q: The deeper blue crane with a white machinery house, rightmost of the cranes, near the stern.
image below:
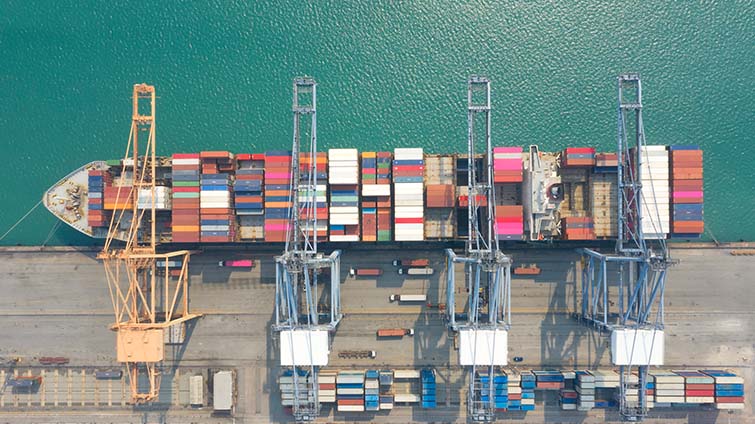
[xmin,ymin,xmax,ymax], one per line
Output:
[565,74,681,418]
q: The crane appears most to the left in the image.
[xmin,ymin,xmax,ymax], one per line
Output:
[96,83,212,403]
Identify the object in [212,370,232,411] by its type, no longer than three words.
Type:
shed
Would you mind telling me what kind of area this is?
port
